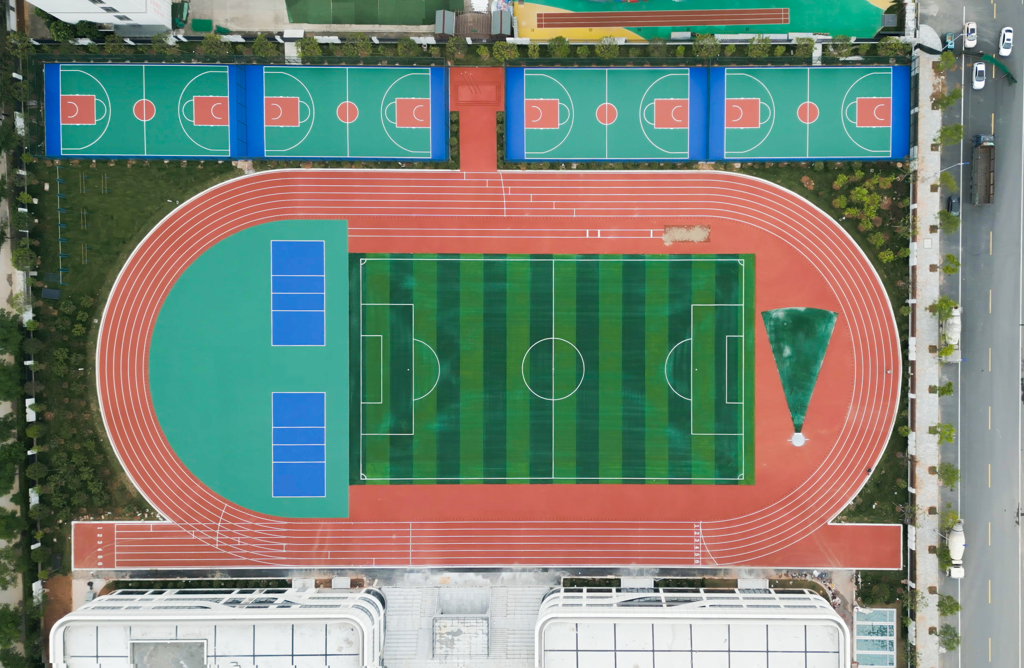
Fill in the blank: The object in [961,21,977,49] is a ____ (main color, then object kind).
white car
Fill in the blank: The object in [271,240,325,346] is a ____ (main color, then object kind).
blue sports court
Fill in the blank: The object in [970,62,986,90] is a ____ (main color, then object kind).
white car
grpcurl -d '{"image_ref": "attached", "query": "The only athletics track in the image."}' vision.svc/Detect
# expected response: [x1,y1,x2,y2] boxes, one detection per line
[71,169,903,571]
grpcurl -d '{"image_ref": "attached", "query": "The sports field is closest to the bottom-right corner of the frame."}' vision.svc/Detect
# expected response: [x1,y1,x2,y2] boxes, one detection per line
[348,253,755,485]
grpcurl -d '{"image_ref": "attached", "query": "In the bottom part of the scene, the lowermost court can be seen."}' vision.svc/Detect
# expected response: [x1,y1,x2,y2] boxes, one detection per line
[272,392,326,497]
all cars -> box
[970,62,986,90]
[996,27,1013,57]
[961,21,977,49]
[945,193,961,218]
